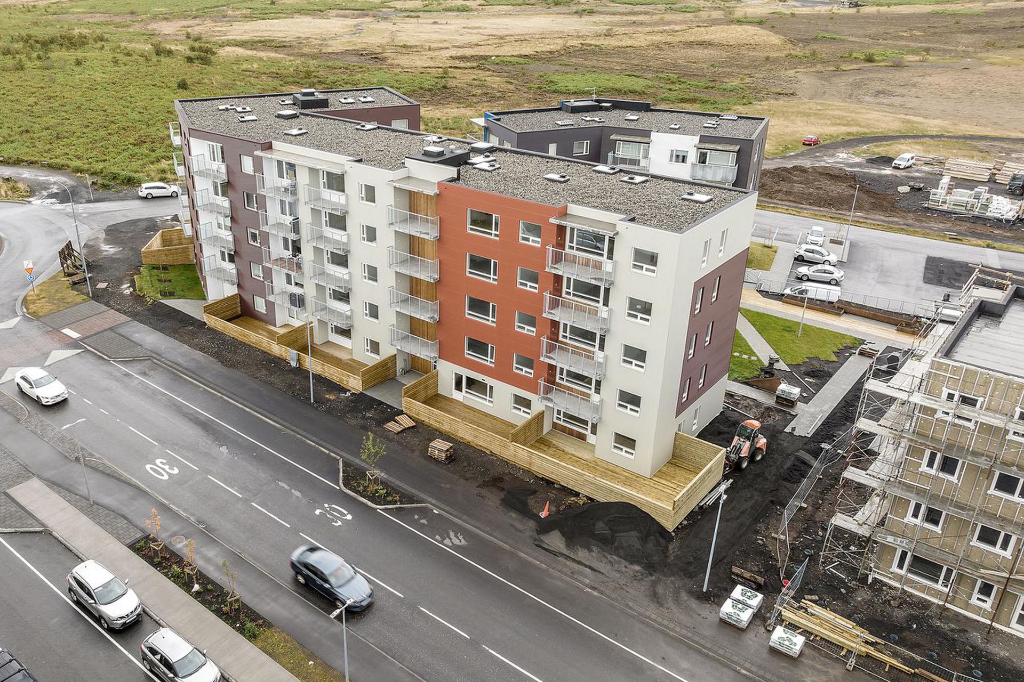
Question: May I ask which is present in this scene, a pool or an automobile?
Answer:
automobile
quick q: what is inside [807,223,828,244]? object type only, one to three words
car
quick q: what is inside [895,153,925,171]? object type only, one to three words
vehicle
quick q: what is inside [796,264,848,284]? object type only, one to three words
car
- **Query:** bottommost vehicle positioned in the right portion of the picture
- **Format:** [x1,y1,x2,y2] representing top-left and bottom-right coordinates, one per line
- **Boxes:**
[722,425,769,476]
